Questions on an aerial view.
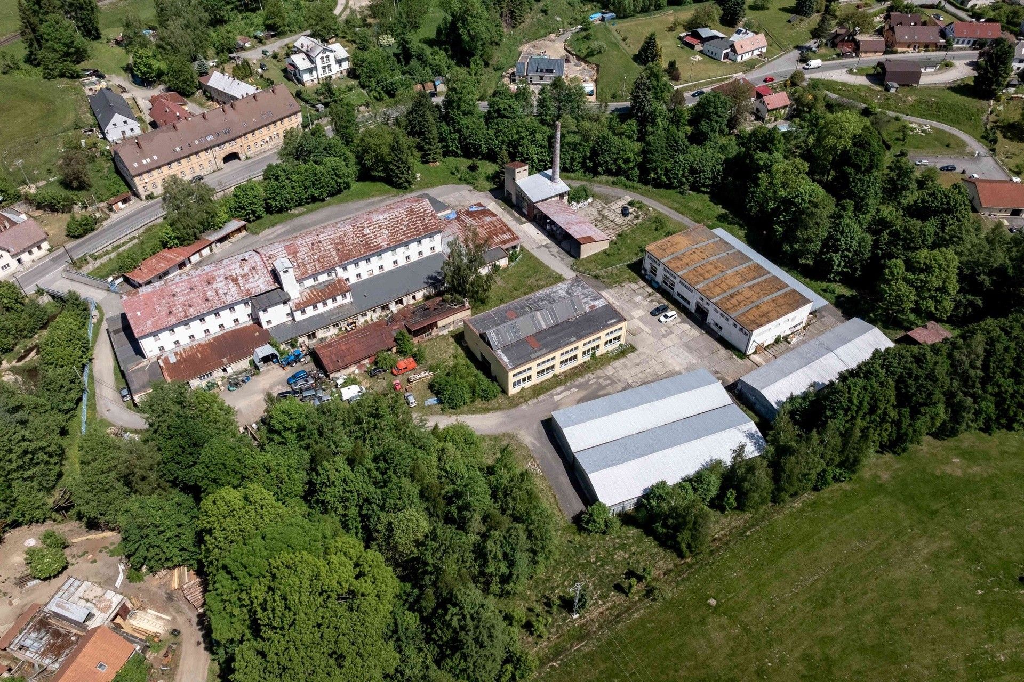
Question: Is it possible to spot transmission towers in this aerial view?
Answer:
Yes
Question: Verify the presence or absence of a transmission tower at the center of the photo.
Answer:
No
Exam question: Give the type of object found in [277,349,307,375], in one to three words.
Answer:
work vehicle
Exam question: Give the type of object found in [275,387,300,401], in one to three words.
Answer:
car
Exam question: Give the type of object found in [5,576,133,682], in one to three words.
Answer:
building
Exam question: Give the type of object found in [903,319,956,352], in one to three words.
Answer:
shed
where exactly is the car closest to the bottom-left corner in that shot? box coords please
[116,387,134,405]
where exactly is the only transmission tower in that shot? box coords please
[566,579,590,624]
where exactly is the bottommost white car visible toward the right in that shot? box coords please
[657,310,679,325]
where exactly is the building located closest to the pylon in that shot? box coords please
[550,367,771,514]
